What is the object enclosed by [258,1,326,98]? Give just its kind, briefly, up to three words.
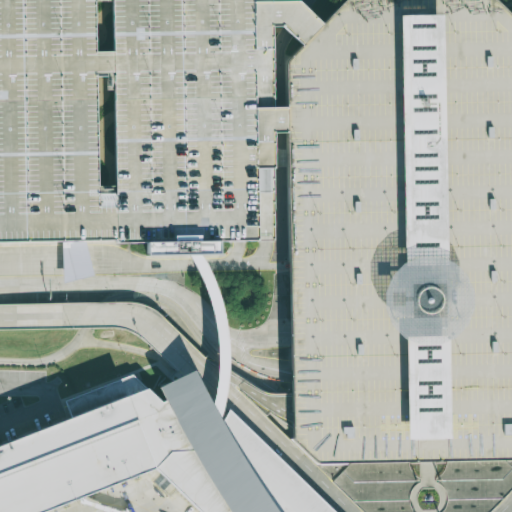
bridge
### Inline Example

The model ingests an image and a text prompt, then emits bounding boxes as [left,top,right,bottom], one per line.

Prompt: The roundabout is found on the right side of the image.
[408,462,448,512]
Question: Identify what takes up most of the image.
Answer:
buildings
